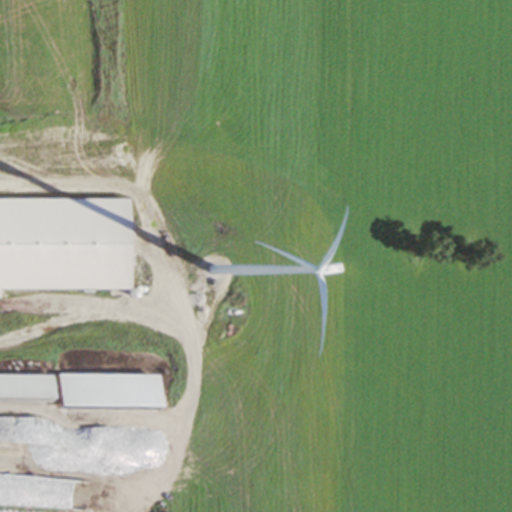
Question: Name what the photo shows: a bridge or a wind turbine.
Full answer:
There is a wind turbine in the scene.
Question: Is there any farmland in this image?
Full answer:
Yes, farmland shows up in the scene.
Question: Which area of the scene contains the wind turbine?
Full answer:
The wind turbine appears toward the center of the photo.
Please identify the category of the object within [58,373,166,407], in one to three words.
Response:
shed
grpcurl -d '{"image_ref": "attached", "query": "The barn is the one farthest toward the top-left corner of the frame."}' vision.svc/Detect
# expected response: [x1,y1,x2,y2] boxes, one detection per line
[0,198,135,296]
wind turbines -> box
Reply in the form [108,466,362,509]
[206,204,350,360]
